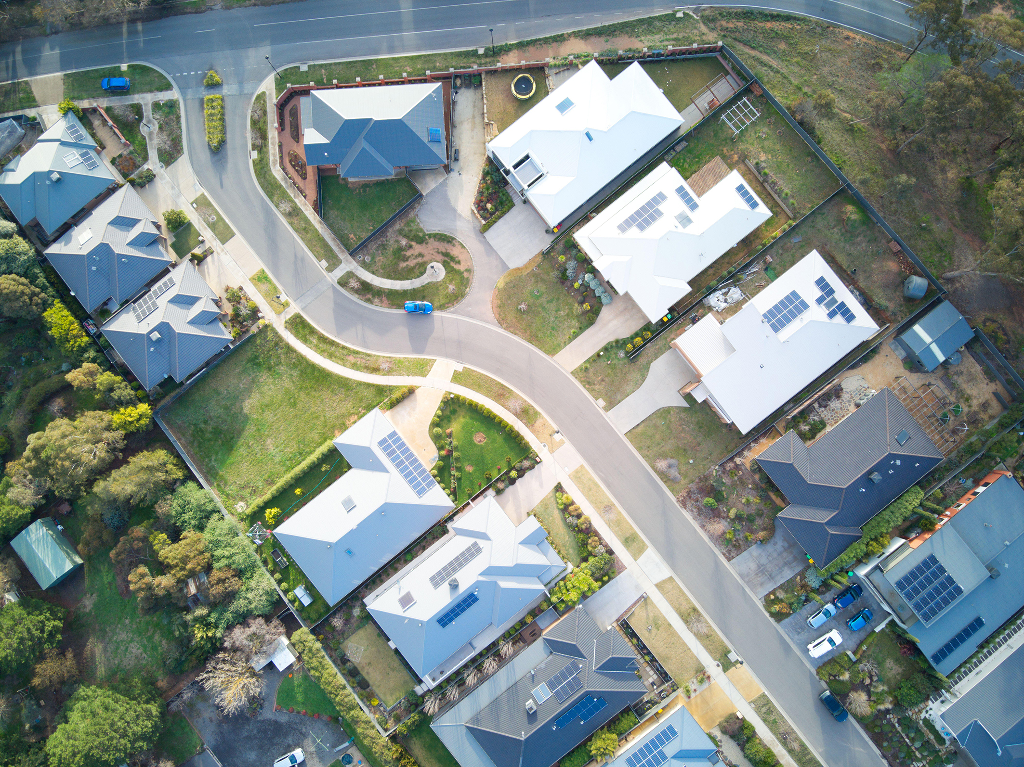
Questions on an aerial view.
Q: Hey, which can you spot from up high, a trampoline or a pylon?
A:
trampoline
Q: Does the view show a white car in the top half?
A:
No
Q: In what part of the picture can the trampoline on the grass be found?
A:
top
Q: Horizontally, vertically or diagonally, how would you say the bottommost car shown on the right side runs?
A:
diagonally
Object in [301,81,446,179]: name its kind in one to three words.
house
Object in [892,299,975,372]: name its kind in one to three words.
shed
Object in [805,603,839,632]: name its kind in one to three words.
car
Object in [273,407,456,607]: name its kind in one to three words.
house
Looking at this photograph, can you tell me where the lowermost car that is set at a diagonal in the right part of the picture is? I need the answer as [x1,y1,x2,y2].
[817,688,850,725]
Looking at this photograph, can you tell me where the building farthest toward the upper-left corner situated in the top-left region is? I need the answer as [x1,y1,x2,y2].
[0,110,122,235]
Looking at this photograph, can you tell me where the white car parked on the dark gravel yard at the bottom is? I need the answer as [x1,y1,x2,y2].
[271,745,308,767]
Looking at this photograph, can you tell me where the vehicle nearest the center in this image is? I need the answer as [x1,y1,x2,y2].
[404,300,433,314]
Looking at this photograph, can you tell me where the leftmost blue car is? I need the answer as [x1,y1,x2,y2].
[102,77,131,92]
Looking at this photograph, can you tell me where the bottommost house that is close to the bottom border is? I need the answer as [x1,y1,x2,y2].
[598,703,719,767]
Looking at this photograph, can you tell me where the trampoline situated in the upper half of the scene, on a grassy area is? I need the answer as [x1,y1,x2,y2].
[512,72,536,97]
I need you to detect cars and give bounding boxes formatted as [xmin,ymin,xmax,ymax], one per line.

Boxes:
[102,77,131,92]
[844,606,875,634]
[805,603,839,632]
[832,583,866,612]
[271,745,308,767]
[817,688,850,725]
[404,300,433,314]
[807,629,845,661]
